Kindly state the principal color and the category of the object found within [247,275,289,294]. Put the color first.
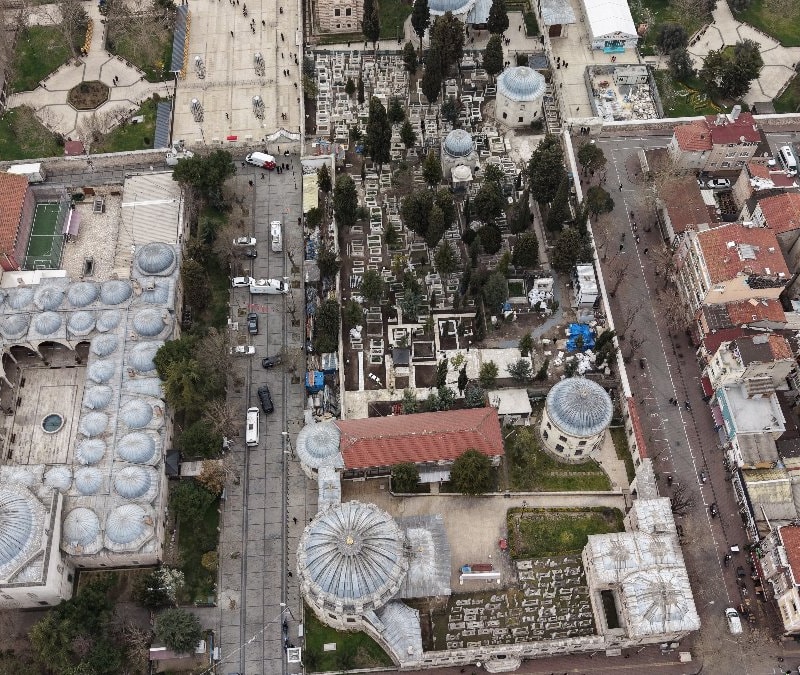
white vehicle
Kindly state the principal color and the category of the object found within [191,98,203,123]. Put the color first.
gray umbrella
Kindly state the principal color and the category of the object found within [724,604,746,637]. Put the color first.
white car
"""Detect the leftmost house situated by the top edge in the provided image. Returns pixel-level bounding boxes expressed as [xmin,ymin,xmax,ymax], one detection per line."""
[310,0,373,35]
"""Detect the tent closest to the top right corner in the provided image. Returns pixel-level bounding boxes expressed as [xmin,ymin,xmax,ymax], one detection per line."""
[580,0,638,55]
